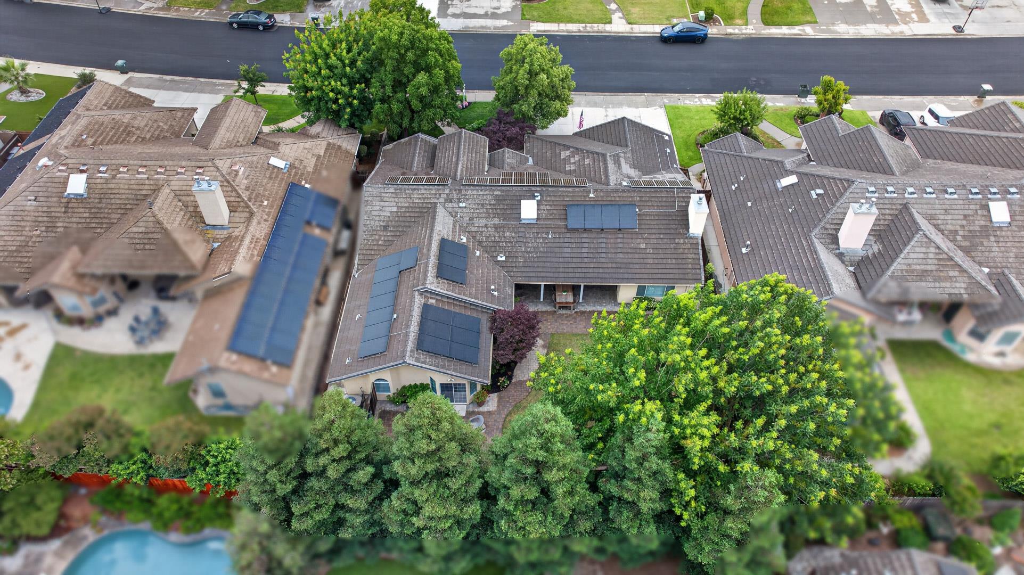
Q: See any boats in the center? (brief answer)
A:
No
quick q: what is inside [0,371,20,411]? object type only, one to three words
swimming pool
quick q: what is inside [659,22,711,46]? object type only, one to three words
car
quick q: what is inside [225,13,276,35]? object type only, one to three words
car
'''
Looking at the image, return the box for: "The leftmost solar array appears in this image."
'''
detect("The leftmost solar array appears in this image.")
[232,183,337,364]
